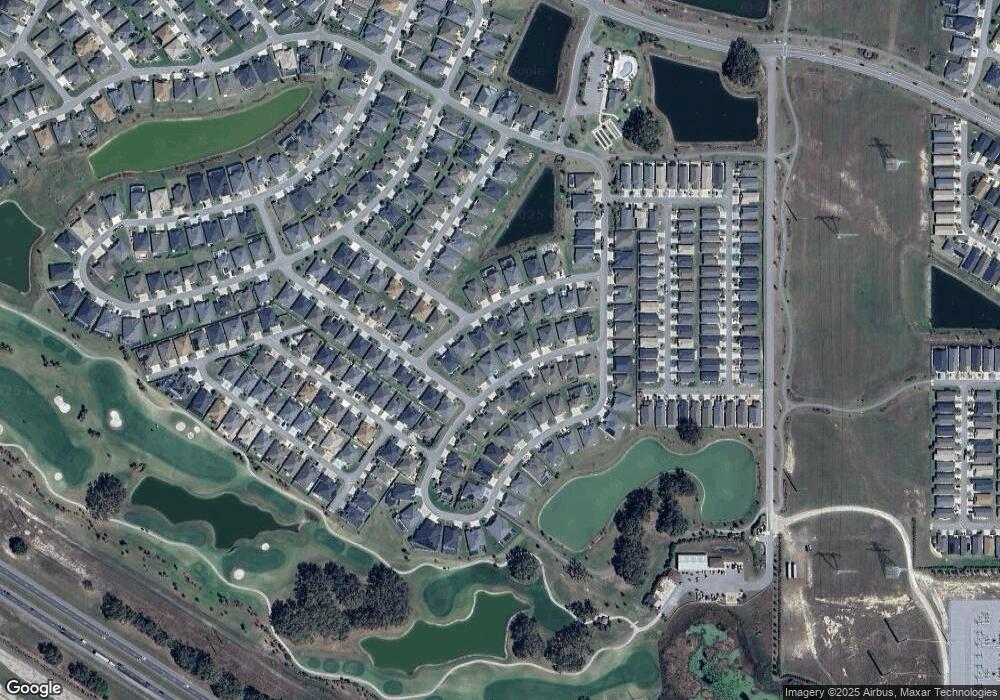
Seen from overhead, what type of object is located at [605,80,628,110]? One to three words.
building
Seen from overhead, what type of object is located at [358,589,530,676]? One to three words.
pond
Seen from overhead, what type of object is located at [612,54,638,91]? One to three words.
swimming pool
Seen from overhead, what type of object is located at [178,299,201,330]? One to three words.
house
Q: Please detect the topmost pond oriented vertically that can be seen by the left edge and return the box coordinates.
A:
[0,199,45,294]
